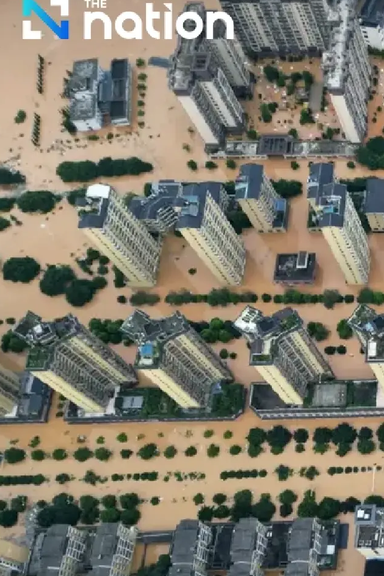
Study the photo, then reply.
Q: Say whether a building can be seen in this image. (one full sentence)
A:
Yes, the image includes a building.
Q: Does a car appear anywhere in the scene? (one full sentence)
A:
No, there's no car here.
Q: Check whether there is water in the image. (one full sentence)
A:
Yes, water can be seen from above here.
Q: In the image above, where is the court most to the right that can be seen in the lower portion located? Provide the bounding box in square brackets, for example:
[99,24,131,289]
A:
[312,383,347,407]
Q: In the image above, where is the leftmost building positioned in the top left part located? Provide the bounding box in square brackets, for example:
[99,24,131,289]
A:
[69,60,110,131]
